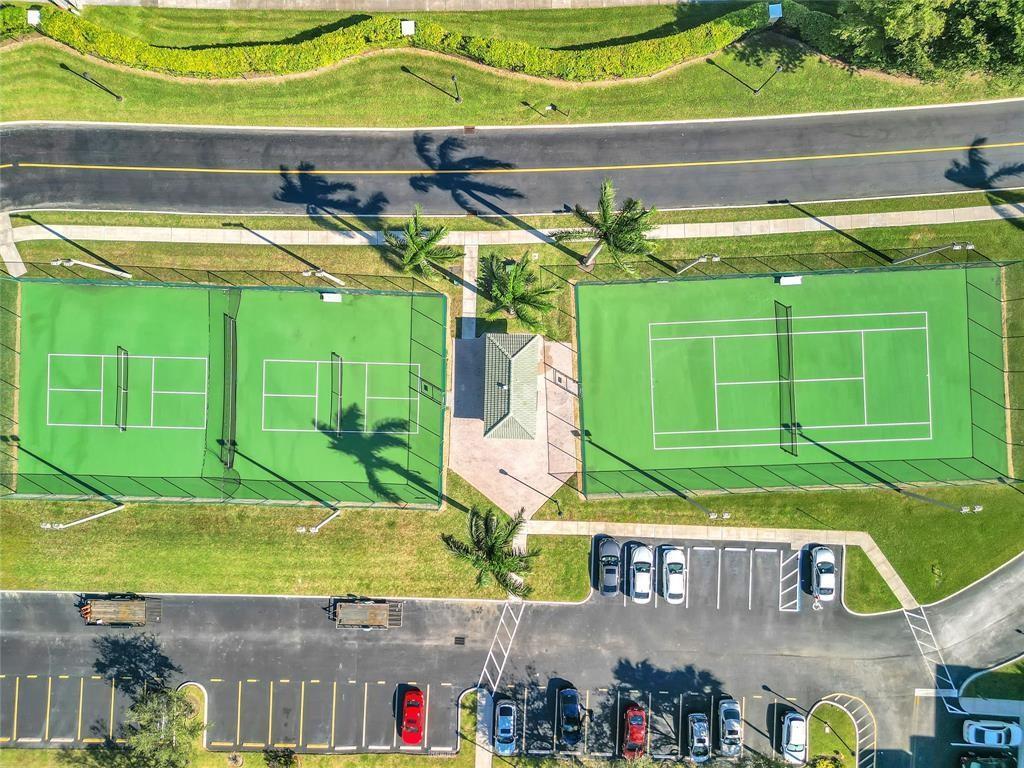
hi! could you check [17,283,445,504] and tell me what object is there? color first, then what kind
green sports court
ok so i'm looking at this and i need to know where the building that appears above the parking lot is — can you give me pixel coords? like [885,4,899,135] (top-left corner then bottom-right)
[483,332,539,440]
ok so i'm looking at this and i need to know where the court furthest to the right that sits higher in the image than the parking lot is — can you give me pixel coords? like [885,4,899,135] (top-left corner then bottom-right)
[577,267,1009,496]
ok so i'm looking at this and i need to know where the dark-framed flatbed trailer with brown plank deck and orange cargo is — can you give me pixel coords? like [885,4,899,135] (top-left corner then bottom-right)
[73,597,162,629]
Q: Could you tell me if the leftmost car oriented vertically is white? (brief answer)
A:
No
